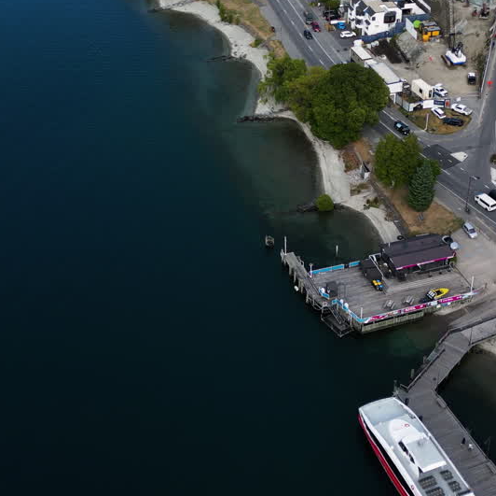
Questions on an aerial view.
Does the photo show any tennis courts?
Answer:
No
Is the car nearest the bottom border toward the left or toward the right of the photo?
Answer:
right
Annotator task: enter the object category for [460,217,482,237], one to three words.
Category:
car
